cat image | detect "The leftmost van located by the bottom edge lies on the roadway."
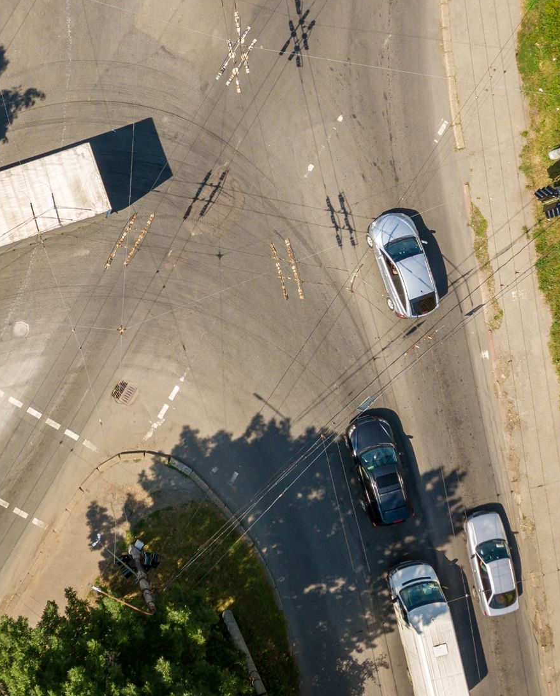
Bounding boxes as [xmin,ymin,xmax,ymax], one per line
[389,561,473,696]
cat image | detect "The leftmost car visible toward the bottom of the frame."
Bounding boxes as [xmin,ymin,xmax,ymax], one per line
[348,413,415,524]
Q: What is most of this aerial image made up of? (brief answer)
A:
paved ground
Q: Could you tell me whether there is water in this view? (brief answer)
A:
No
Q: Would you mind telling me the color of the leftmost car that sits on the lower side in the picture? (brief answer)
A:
black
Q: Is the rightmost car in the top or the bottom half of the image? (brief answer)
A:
bottom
